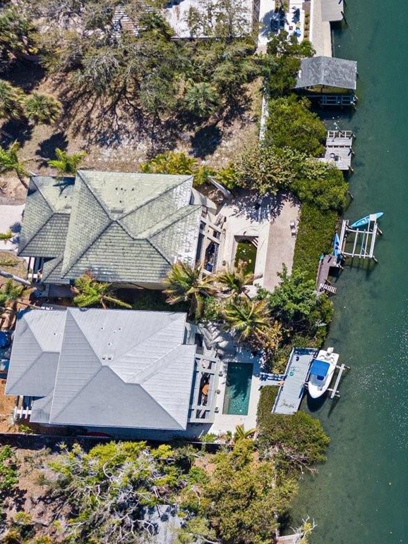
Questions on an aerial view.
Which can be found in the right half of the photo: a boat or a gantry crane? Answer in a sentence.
Looking in the right half of the photo, you will find a boat.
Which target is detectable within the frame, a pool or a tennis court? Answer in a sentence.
Looking from above, you can make out a pool.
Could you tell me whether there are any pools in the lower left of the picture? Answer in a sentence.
No, there is no pool in the lower left of the picture.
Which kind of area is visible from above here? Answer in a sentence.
This looks like a residential area.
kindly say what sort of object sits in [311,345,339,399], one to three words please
boat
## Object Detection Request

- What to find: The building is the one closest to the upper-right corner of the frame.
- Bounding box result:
[296,56,362,111]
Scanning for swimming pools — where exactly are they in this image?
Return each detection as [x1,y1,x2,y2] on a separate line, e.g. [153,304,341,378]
[229,233,260,279]
[219,360,255,417]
